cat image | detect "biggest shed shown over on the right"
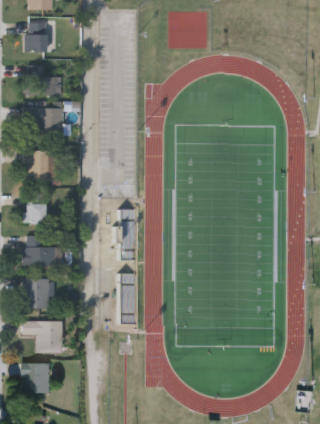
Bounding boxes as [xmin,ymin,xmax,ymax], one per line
[296,390,312,412]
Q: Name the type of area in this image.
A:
sports ground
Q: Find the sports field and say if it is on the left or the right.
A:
right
